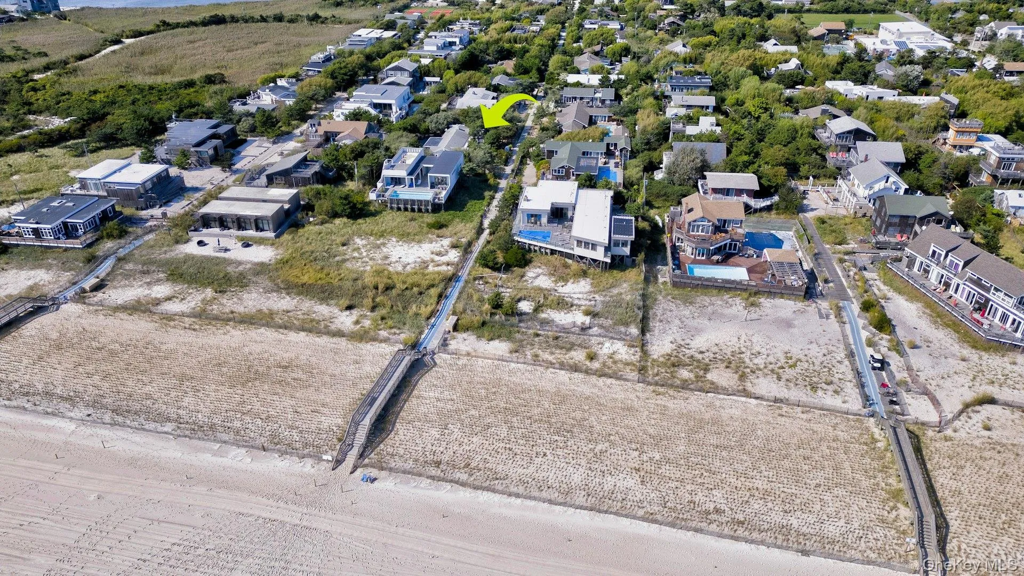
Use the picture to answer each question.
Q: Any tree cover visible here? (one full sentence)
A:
Yes, there is tree cover in the image.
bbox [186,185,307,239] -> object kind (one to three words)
house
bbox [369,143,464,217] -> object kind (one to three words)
house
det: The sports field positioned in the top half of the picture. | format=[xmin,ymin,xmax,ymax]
[811,13,905,27]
